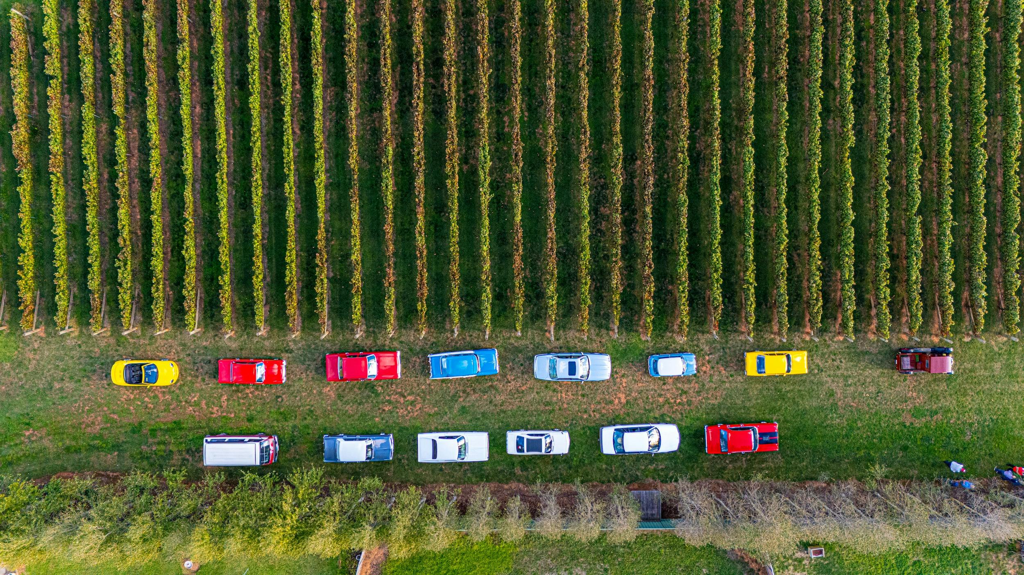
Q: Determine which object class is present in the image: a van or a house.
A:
van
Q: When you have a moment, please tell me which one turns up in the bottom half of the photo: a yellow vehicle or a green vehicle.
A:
yellow vehicle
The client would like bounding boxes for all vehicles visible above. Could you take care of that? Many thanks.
[418,430,489,465]
[218,358,287,387]
[426,348,500,380]
[744,350,808,378]
[896,348,952,375]
[111,358,181,390]
[648,352,697,377]
[204,436,280,468]
[599,423,680,457]
[326,351,401,381]
[534,351,611,384]
[507,428,570,456]
[323,433,394,464]
[704,421,779,453]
